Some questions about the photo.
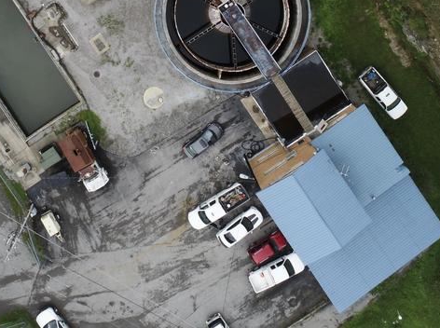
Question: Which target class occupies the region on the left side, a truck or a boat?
truck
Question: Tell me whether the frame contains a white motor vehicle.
Yes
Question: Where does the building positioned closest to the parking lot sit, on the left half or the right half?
right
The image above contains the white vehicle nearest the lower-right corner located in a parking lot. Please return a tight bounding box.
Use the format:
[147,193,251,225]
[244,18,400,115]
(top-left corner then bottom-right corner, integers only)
[244,248,307,294]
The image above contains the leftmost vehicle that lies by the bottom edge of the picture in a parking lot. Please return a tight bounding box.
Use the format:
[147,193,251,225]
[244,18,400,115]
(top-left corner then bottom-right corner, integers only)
[37,305,66,328]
